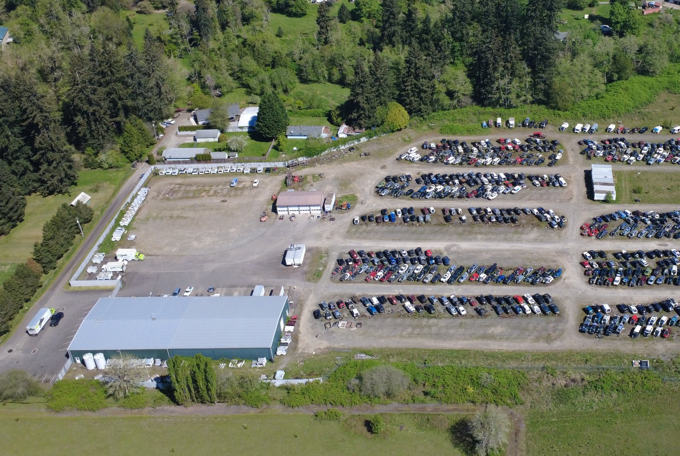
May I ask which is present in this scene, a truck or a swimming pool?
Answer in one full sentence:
Looking from above, you can make out a truck.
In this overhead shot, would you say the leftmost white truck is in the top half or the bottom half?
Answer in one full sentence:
Seen from above, the leftmost white truck lies in the bottom half of the view.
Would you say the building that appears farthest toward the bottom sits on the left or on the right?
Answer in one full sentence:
The building that appears farthest toward the bottom is on the left side of the image.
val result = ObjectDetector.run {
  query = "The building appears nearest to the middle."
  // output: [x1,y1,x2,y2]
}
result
[276,190,325,215]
